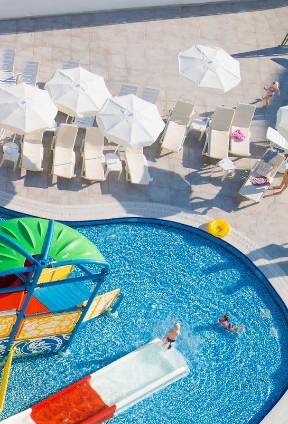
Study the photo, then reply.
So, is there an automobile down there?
No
